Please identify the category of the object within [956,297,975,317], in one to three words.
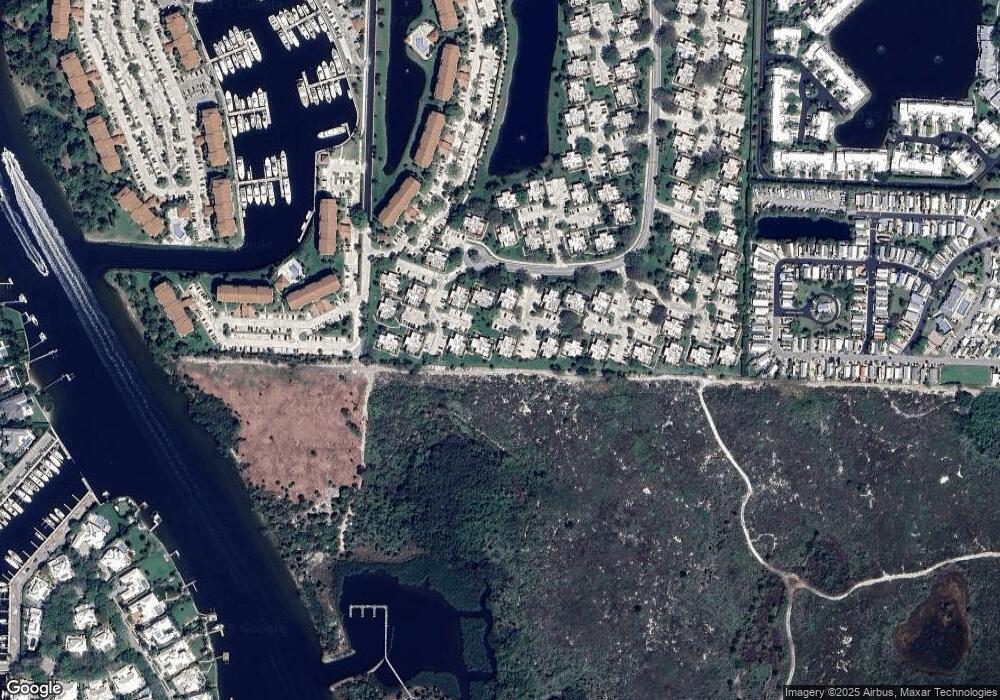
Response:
swimming pool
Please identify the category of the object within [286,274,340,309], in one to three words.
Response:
building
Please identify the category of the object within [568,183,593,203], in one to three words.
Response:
house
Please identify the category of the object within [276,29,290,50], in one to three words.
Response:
boat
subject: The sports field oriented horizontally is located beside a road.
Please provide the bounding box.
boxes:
[940,365,991,386]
